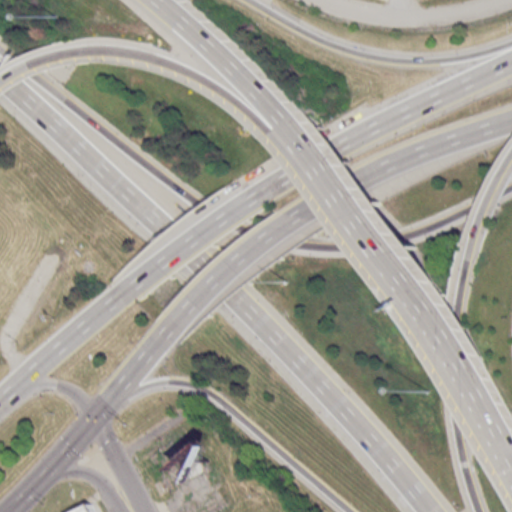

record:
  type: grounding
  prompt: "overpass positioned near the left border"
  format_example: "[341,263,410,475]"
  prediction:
[0,48,47,96]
